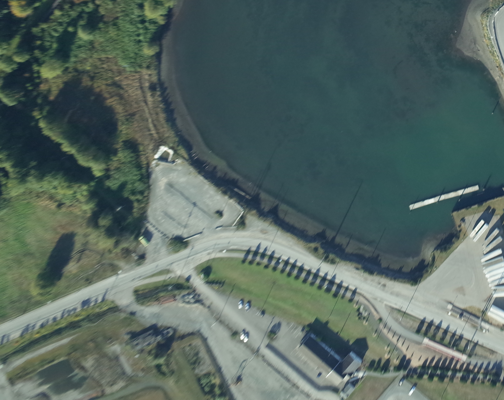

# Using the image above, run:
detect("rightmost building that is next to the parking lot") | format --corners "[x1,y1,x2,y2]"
[342,347,365,377]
